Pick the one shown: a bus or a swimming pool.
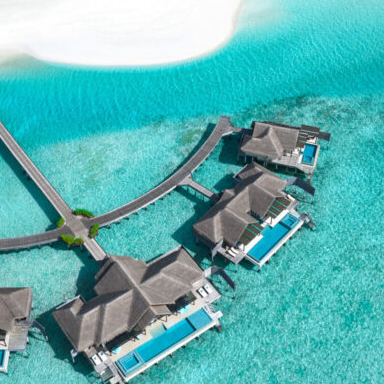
swimming pool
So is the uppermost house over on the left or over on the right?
right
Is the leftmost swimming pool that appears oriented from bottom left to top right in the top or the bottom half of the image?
bottom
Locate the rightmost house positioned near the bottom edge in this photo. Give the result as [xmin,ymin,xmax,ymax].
[54,244,236,384]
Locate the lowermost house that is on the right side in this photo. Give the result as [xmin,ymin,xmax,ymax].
[191,164,316,271]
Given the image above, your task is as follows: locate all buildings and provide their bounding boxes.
[54,244,236,384]
[191,164,316,271]
[241,120,330,183]
[0,286,51,358]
